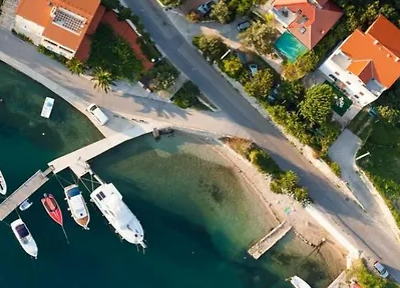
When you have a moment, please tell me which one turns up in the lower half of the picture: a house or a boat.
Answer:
boat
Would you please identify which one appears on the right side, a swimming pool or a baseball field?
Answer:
swimming pool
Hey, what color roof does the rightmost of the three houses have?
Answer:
orange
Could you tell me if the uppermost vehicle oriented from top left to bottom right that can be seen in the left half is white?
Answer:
Yes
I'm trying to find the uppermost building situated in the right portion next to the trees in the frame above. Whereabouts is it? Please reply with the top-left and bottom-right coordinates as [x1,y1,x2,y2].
[269,0,349,51]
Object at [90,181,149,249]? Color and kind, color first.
white boat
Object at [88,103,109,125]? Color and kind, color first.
white vehicle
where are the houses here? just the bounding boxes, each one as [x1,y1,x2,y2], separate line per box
[269,0,349,51]
[318,6,400,96]
[14,0,105,62]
